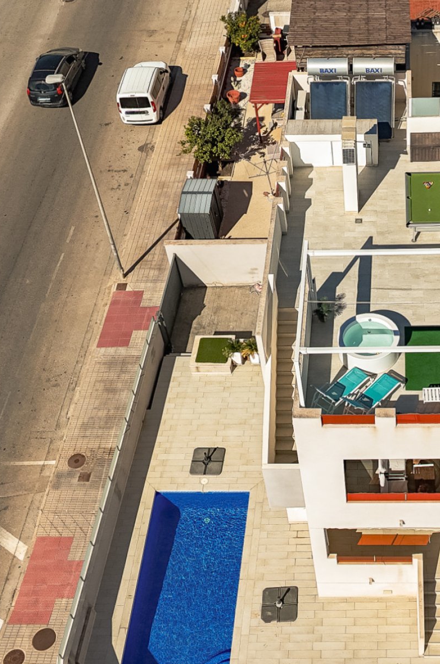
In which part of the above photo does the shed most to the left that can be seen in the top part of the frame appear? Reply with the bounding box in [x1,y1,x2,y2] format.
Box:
[179,180,223,240]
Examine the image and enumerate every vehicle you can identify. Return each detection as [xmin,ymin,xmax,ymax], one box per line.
[118,57,179,124]
[25,46,90,106]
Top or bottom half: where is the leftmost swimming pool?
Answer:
bottom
